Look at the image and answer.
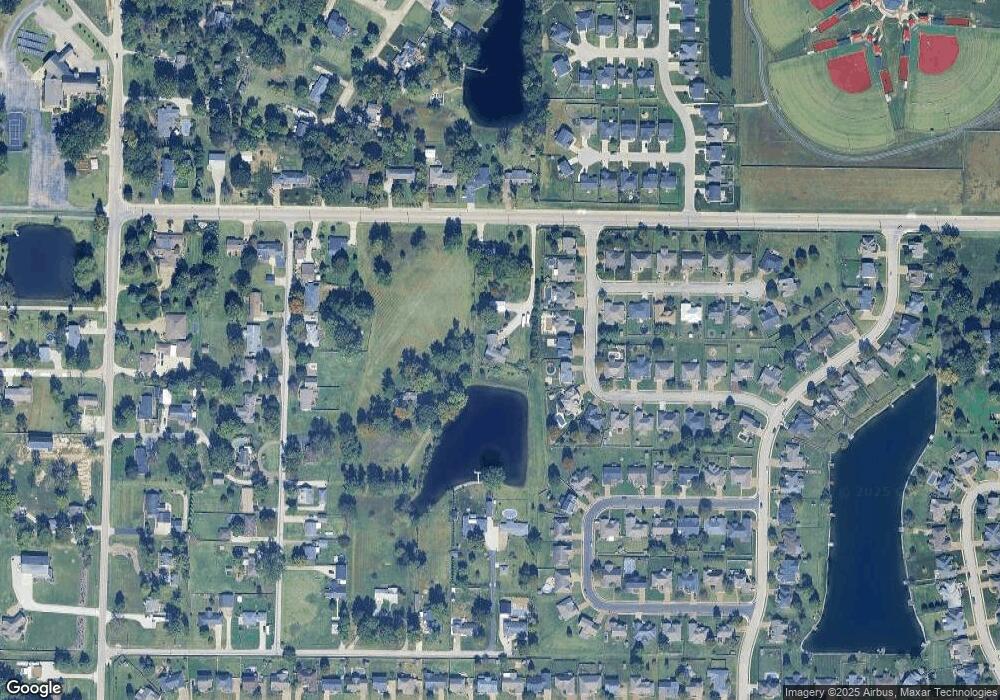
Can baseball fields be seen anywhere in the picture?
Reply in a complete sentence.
Yes, the photo shows a baseball field.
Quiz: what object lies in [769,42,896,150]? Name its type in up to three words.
baseball field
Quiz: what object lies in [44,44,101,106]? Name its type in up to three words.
building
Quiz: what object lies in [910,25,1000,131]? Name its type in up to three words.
baseball field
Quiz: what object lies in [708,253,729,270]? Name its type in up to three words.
house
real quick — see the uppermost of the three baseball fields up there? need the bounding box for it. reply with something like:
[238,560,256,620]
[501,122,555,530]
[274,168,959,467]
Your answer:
[750,0,843,52]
